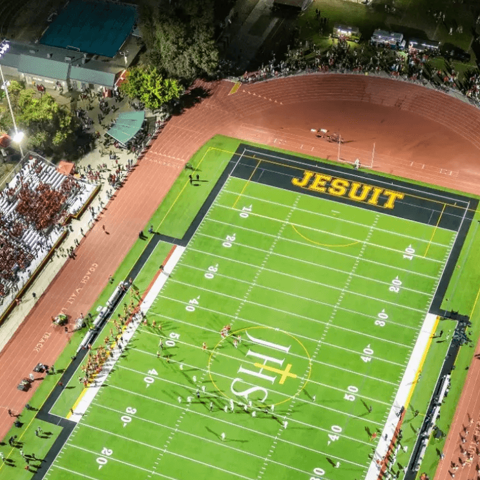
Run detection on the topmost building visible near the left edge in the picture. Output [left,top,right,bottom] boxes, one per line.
[0,42,129,97]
